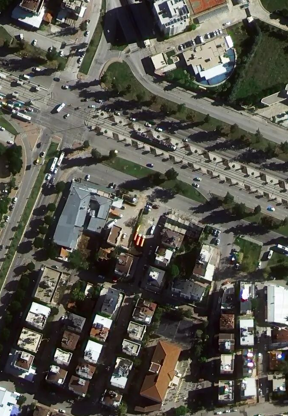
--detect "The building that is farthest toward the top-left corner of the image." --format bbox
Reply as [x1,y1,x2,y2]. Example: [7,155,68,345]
[12,0,45,29]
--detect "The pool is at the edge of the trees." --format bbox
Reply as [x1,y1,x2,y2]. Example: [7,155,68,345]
[197,47,237,83]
